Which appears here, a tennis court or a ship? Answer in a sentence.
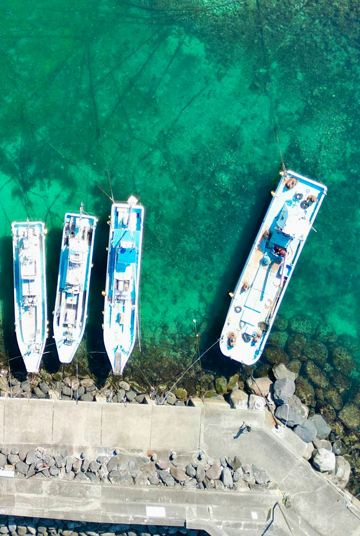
Of the two, only a ship appears.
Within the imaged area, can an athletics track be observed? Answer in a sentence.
No, the photo shows no athletics track.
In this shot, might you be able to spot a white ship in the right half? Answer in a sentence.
Yes, you'll find a white ship in the right half.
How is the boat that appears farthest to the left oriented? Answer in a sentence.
The boat that appears farthest to the left has been laid out up and down relative to the frame.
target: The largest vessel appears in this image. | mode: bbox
[217,170,327,363]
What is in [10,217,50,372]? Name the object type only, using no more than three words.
boat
